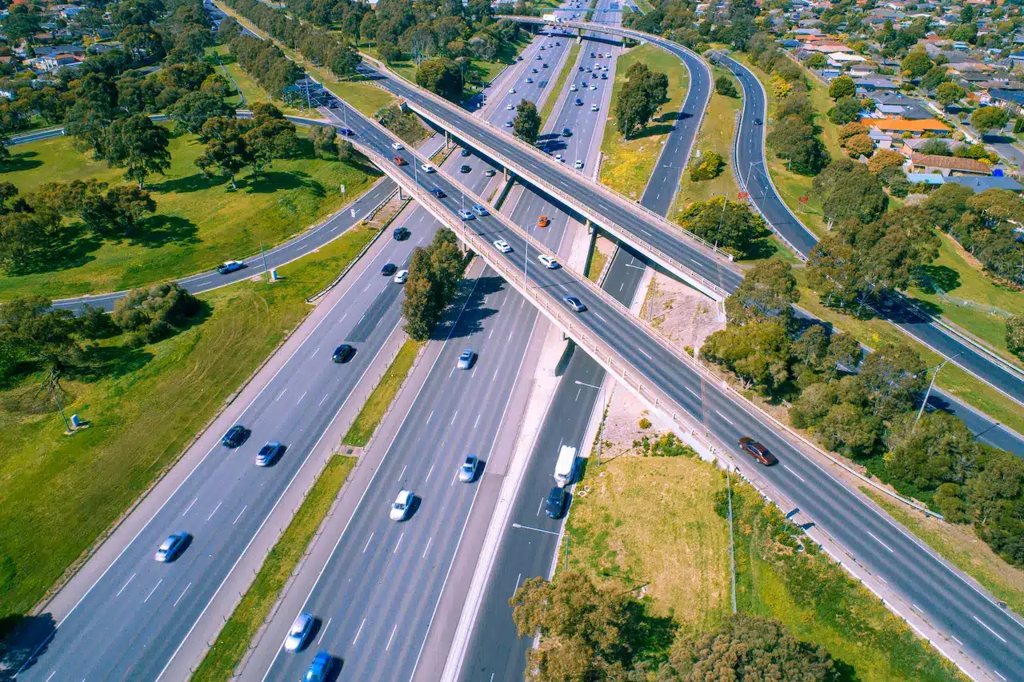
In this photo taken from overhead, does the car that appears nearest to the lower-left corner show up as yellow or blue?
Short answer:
blue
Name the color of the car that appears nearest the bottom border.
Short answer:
blue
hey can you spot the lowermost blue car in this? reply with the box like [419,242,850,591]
[303,648,335,682]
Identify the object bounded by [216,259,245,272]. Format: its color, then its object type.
blue vehicle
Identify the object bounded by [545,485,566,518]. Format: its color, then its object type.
blue car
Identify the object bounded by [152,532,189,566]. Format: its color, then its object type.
blue car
